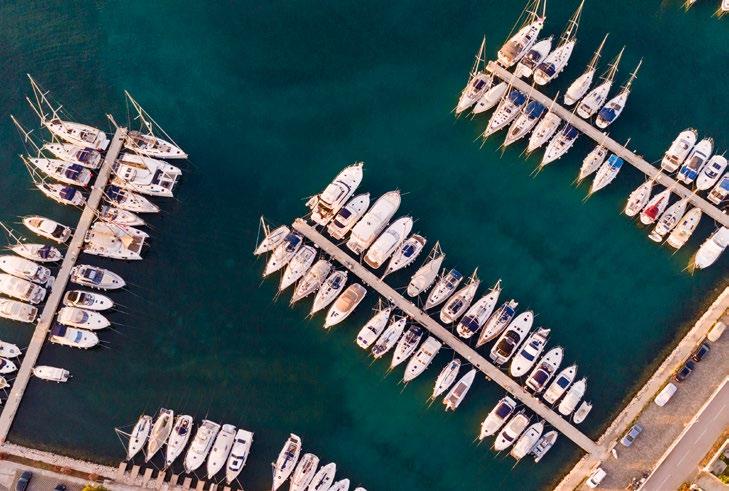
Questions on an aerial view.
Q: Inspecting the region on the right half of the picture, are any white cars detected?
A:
Yes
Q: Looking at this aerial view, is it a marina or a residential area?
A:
marina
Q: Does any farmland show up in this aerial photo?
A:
No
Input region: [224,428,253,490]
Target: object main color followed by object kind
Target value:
white boat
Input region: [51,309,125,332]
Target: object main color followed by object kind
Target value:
white boat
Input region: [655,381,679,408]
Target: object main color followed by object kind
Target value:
white vehicle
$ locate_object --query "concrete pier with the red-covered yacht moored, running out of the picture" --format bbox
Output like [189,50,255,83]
[485,62,729,226]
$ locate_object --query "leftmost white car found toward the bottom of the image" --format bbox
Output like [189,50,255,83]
[586,465,607,490]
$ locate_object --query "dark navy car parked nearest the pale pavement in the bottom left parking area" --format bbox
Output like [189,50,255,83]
[12,468,34,491]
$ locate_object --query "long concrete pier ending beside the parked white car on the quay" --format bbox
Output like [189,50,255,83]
[292,218,599,455]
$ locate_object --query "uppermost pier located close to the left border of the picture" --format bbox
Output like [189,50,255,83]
[0,127,129,443]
